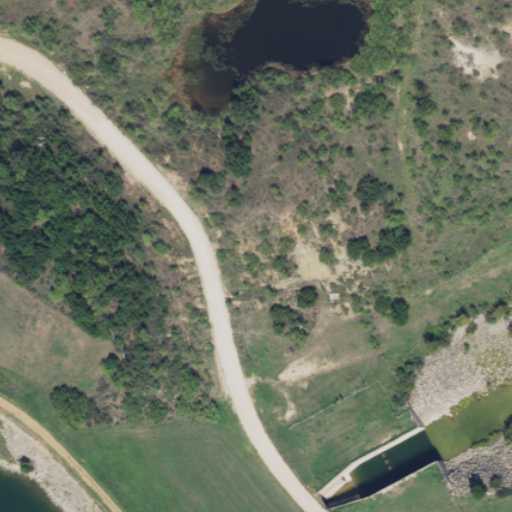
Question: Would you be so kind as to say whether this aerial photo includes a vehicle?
No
